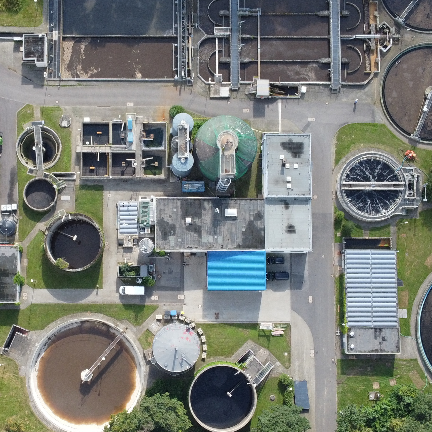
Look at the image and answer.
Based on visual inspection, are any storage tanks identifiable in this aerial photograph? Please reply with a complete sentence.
Yes, looking at the shot, I can spot a storage tank.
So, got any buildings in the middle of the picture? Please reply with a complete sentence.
Yes, a building shows up in the middle of the picture.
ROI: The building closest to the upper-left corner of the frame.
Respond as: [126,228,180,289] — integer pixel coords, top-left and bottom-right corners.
[21,34,48,69]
